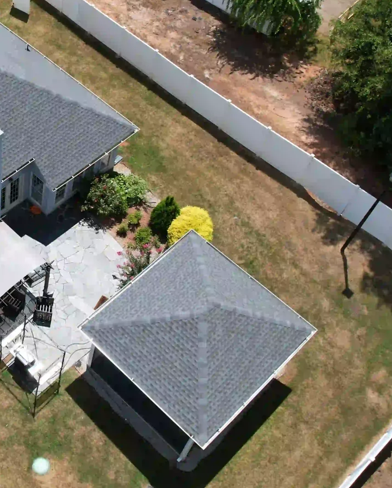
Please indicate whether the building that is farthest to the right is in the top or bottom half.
bottom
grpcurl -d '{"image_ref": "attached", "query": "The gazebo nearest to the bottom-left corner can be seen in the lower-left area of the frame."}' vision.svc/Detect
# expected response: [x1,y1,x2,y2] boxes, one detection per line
[0,314,68,400]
